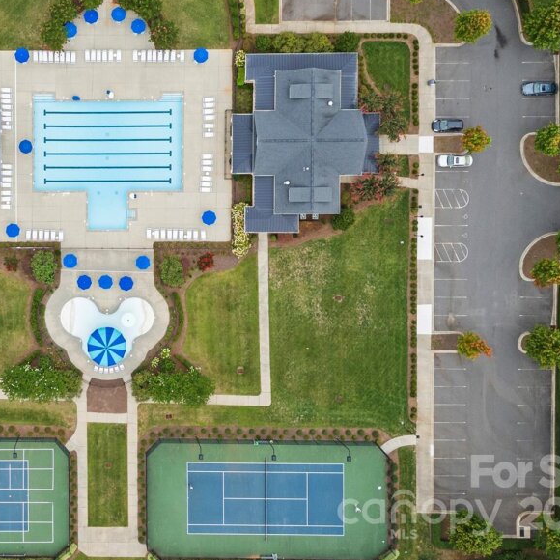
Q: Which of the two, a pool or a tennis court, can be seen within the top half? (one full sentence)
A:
What appears within the top half is a pool.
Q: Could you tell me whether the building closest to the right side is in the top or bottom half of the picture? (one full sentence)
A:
The building closest to the right side is in the top half of the image.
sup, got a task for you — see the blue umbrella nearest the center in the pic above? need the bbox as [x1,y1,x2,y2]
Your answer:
[201,210,216,225]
